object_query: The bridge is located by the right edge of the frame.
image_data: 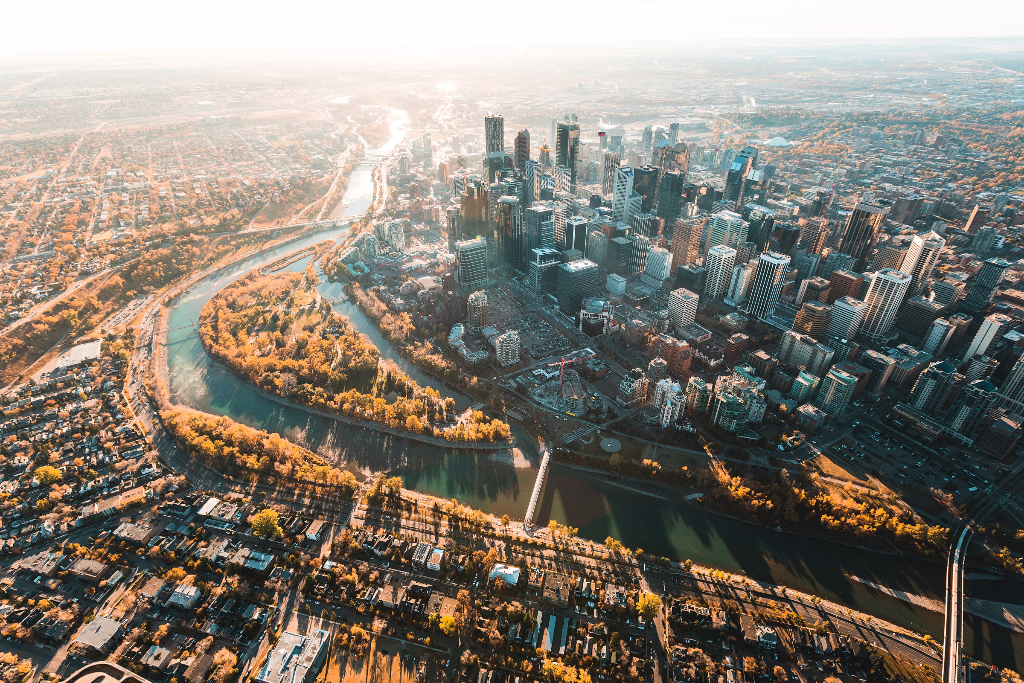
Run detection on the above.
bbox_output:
[941,501,987,683]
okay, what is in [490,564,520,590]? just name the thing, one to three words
house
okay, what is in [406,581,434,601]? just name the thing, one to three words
house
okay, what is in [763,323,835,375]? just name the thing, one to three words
building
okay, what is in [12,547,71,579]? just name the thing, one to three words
building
